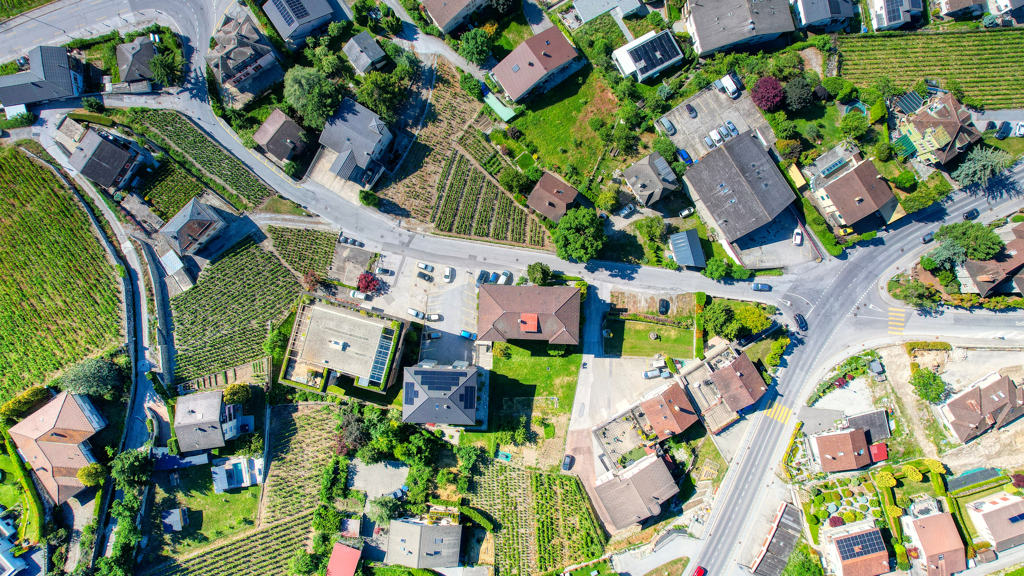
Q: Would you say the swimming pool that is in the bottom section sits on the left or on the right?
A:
left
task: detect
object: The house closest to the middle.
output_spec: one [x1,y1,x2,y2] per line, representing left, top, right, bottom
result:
[478,284,580,367]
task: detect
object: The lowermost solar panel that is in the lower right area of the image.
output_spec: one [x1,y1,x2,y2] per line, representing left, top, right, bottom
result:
[837,530,886,561]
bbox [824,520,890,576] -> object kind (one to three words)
house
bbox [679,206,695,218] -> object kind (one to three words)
vehicle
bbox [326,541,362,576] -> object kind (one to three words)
building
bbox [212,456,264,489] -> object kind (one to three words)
swimming pool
